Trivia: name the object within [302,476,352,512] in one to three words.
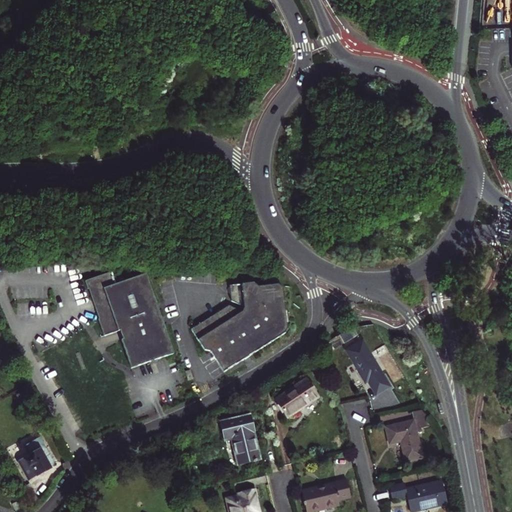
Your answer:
house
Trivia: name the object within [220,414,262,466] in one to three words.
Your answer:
house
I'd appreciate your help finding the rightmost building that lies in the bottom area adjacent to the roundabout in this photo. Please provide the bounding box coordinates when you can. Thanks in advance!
[342,332,400,410]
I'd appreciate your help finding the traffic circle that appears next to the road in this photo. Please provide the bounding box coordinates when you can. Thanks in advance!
[248,54,484,292]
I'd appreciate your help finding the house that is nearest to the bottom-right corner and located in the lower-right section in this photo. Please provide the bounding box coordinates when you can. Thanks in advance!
[390,479,448,512]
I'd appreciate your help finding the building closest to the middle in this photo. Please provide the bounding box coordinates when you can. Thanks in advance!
[192,282,287,374]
